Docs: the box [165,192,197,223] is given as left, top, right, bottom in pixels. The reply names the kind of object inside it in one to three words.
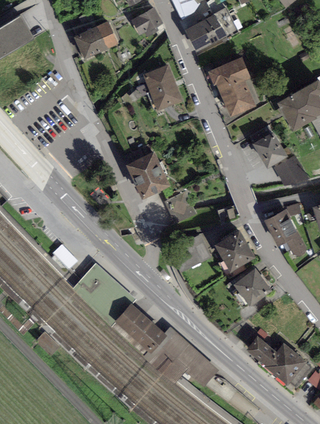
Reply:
building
